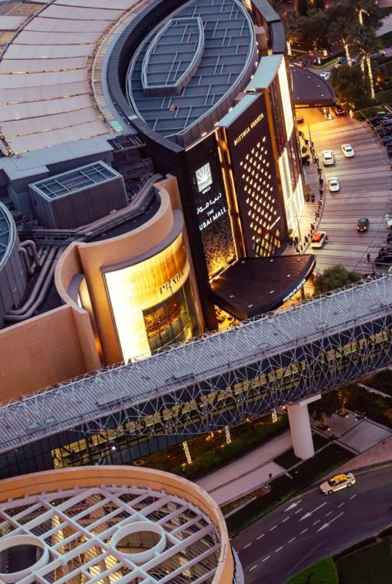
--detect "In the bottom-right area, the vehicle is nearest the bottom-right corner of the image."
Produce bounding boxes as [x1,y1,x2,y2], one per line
[319,472,357,495]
